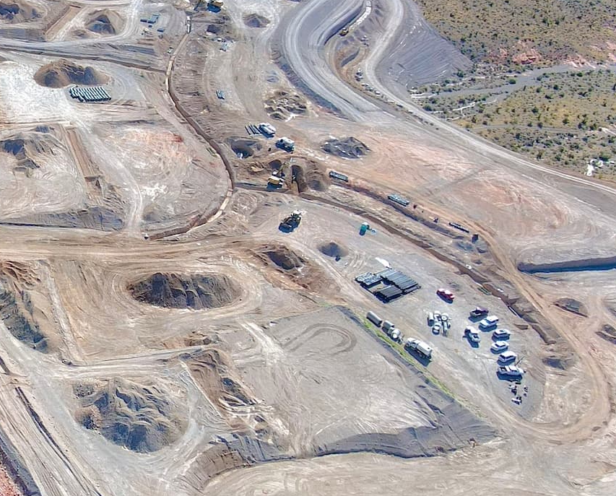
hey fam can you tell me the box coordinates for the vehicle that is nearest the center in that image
[274,202,301,231]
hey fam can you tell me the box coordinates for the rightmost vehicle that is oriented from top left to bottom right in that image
[463,327,484,345]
